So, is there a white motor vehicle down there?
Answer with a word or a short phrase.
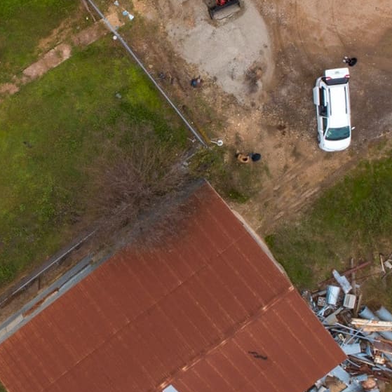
Yes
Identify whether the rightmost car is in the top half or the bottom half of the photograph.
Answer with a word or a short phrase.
top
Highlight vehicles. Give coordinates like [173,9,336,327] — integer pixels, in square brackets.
[316,70,357,153]
[207,0,241,19]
